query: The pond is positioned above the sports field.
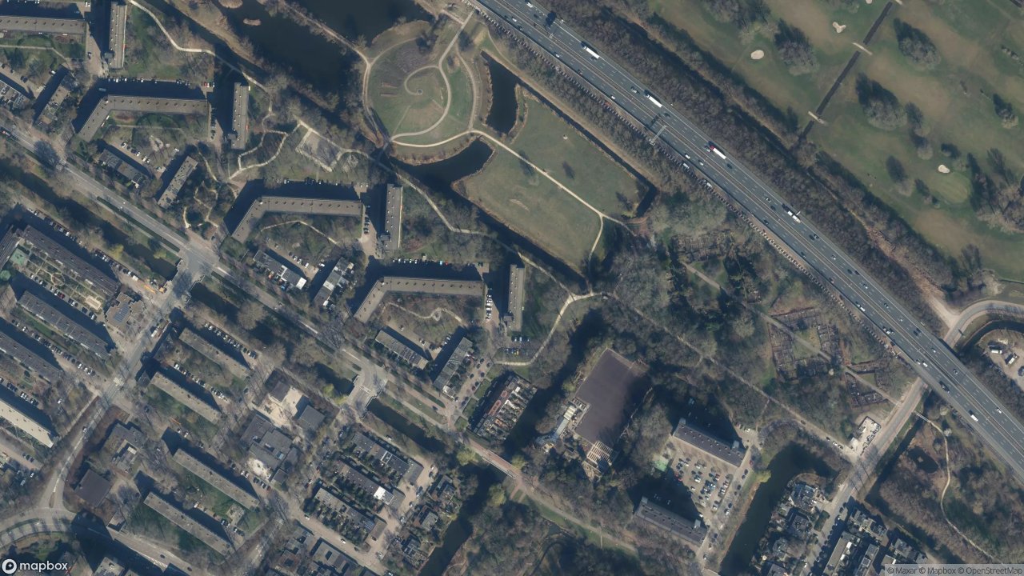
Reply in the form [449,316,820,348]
[483,52,656,215]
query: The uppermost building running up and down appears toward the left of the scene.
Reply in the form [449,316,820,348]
[101,1,126,70]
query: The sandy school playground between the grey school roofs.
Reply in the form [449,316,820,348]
[255,388,305,425]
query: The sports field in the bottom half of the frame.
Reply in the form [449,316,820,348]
[573,346,652,451]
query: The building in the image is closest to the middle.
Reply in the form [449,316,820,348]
[503,265,525,332]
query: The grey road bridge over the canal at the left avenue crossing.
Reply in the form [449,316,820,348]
[168,258,208,294]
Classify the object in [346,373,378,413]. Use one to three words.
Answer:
bridge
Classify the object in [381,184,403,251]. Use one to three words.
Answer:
building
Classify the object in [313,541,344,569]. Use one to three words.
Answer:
house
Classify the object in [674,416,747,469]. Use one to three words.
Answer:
building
